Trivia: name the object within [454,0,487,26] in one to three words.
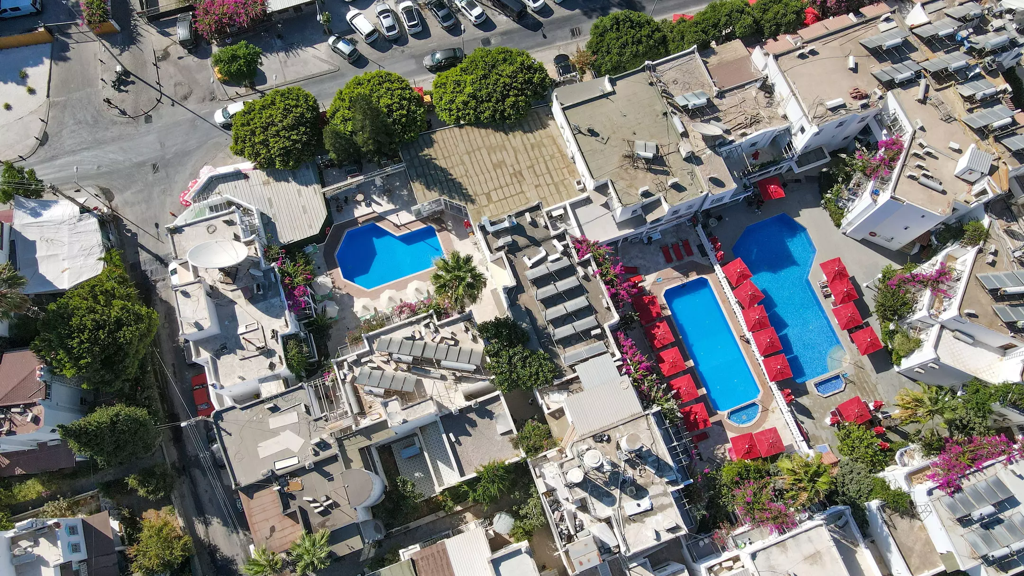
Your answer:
car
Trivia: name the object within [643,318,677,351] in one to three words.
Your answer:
umbrella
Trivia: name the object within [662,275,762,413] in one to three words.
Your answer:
swimming pool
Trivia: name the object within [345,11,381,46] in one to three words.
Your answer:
car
